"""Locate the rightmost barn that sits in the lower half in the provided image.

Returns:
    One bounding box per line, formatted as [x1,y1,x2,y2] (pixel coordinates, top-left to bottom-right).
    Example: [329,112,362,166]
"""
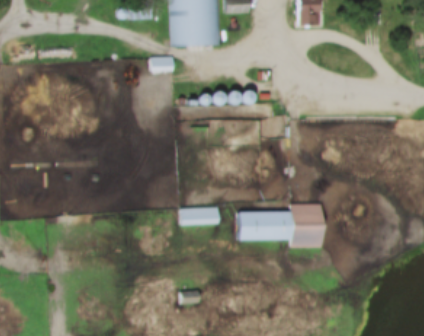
[288,204,325,248]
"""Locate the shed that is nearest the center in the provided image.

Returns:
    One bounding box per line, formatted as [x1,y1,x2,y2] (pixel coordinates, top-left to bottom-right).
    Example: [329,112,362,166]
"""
[177,208,218,226]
